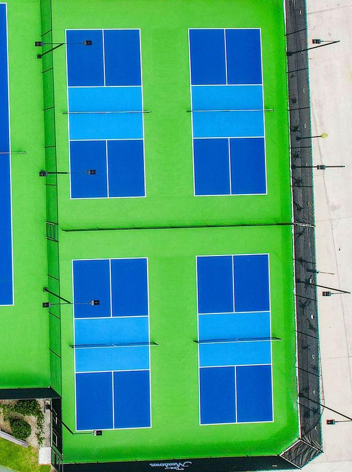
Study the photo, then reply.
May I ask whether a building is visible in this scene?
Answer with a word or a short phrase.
No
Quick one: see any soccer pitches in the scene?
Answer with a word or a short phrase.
No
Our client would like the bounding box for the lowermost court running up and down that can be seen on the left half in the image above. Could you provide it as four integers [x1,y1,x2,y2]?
[72,258,153,431]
